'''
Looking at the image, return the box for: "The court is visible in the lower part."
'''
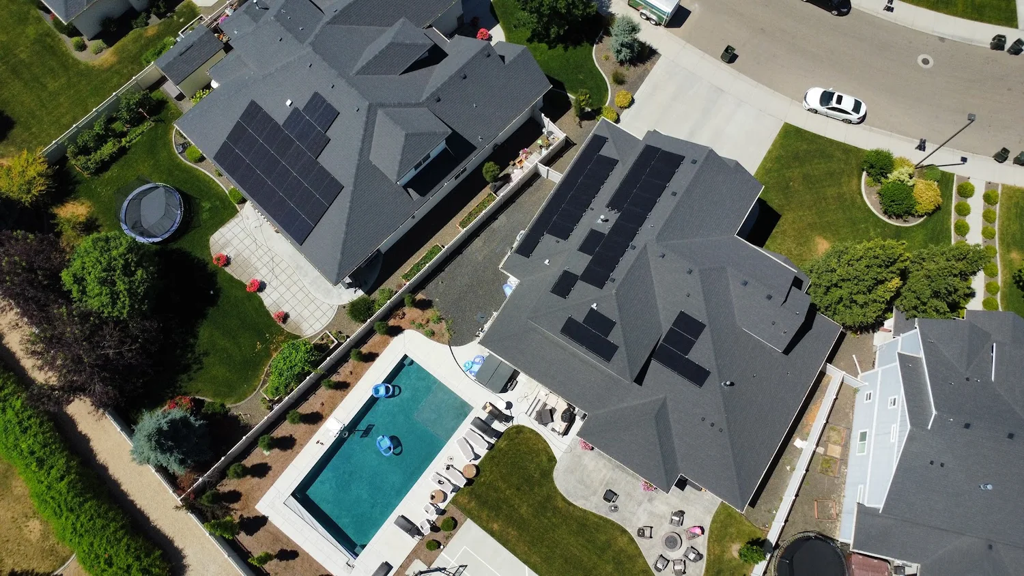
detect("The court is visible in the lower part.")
[426,519,543,576]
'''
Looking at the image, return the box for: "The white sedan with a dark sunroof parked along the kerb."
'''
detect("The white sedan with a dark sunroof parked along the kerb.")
[801,86,869,124]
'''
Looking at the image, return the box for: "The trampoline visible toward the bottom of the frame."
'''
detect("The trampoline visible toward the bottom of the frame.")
[764,525,859,576]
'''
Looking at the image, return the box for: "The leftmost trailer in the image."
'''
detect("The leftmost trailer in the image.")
[621,0,678,26]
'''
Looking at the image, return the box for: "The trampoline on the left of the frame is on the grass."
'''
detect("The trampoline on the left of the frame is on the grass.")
[108,176,187,244]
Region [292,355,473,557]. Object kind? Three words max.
swimming pool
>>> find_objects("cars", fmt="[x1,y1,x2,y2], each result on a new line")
[801,86,869,124]
[798,0,853,16]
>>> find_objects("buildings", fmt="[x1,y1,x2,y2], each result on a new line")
[175,0,551,289]
[46,0,153,41]
[478,117,843,514]
[838,305,1024,576]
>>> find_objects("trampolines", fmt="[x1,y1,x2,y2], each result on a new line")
[108,176,187,244]
[764,525,859,576]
